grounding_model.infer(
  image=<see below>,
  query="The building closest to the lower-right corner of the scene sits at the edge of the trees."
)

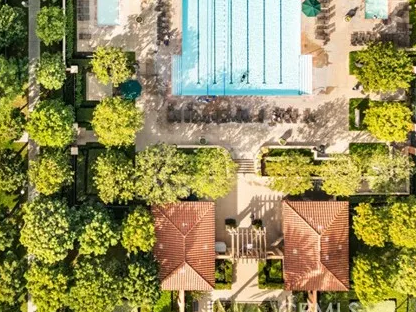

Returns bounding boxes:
[281,200,350,292]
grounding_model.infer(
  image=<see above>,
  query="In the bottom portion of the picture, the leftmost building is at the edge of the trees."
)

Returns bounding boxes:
[153,201,215,291]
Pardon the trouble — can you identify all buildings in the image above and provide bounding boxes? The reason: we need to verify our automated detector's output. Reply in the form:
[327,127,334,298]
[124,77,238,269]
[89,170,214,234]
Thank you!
[153,201,215,291]
[281,200,350,292]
